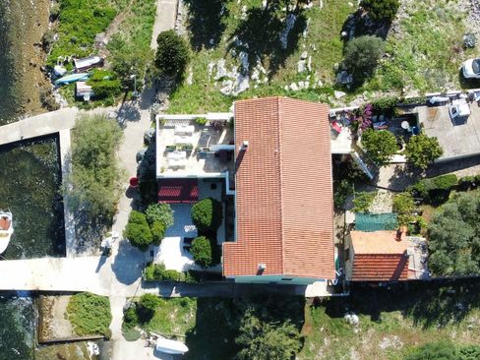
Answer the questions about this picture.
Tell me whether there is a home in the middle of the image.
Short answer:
Yes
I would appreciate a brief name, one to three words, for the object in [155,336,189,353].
boat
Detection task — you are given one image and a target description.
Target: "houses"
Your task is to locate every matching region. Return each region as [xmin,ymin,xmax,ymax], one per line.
[338,230,412,281]
[218,92,335,280]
